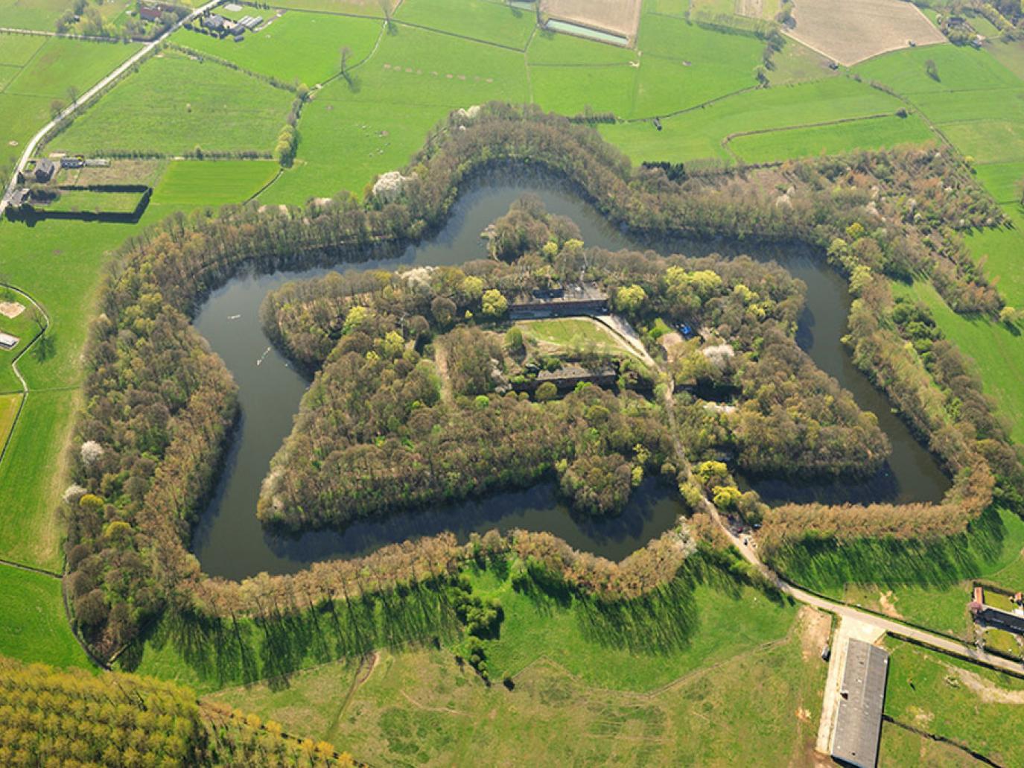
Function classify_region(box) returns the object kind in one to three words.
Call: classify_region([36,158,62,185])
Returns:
house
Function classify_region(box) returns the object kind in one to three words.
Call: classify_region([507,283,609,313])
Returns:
building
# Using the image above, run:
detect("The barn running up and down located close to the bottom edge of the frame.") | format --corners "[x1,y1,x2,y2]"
[828,642,892,768]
